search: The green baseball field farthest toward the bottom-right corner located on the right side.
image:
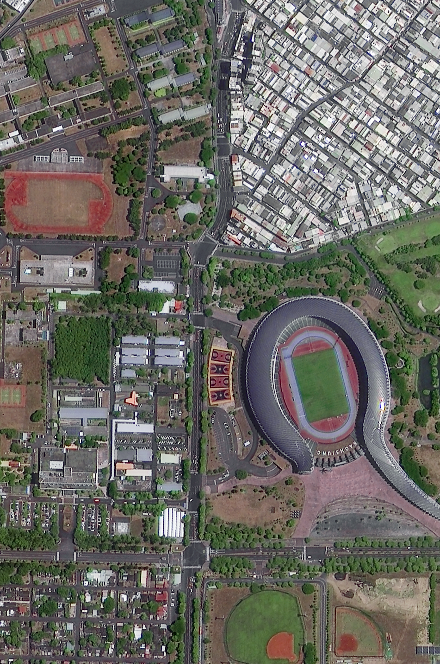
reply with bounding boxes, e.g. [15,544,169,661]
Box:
[225,590,305,664]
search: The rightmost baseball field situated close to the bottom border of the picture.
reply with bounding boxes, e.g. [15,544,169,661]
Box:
[335,606,385,657]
